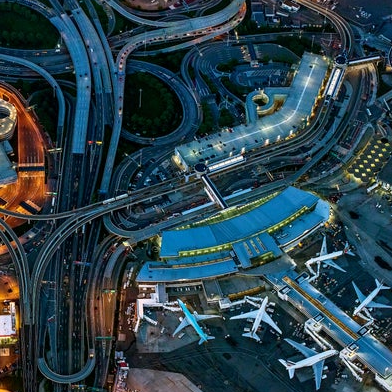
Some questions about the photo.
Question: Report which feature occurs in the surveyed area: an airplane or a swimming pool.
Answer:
airplane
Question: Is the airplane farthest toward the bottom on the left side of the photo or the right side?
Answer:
right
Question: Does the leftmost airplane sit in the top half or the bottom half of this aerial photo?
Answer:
bottom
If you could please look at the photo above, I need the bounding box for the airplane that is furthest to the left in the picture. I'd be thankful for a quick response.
[176,300,217,345]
